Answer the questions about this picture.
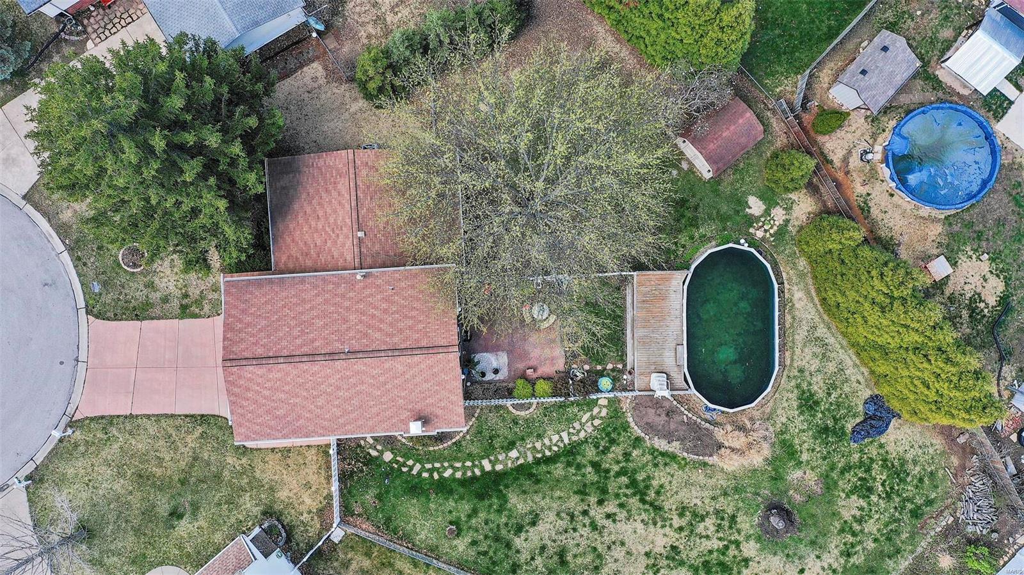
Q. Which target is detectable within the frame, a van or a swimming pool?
swimming pool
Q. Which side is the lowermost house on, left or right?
left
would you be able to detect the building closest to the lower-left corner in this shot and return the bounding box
[193,530,265,575]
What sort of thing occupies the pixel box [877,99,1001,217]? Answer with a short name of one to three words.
swimming pool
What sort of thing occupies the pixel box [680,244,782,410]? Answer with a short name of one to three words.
swimming pool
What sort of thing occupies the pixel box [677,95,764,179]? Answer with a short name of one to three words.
shed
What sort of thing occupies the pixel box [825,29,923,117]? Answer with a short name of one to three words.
shed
